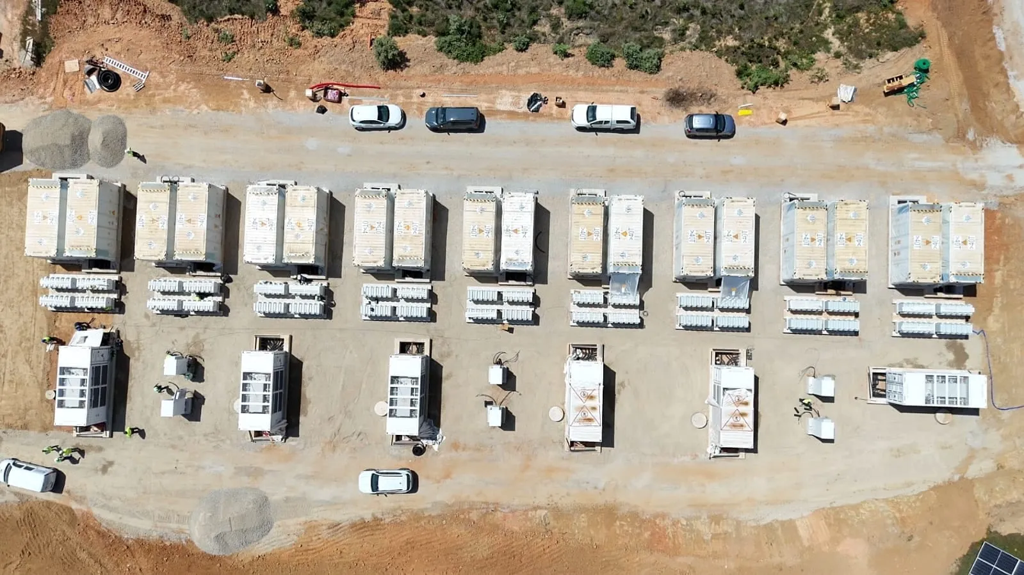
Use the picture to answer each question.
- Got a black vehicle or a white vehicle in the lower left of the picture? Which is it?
white vehicle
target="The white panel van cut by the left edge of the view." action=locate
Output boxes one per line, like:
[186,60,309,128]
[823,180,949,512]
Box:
[0,458,61,494]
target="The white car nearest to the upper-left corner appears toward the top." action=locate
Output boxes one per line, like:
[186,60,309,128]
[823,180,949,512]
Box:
[350,102,404,130]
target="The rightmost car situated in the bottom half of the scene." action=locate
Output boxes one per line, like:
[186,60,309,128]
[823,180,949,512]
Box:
[360,467,413,496]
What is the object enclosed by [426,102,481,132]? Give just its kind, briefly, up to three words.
car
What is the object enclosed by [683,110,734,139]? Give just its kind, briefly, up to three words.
car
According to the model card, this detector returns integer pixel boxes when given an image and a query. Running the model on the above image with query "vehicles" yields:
[683,110,734,139]
[360,467,413,496]
[350,102,404,130]
[426,102,481,132]
[571,100,637,132]
[0,458,61,494]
